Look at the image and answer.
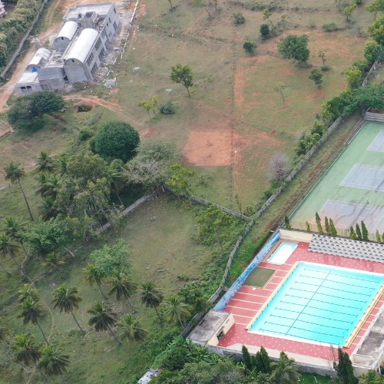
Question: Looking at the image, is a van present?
No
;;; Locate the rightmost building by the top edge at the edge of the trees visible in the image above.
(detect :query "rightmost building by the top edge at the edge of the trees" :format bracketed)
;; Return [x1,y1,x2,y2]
[16,2,121,96]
